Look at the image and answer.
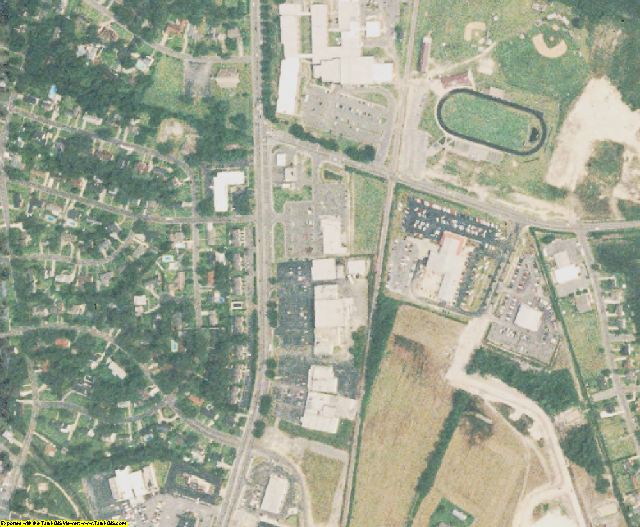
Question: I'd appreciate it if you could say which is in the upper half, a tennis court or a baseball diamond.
baseball diamond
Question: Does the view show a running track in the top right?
Yes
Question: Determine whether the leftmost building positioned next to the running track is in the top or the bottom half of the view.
top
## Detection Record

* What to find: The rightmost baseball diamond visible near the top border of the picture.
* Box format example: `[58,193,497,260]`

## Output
[497,23,590,104]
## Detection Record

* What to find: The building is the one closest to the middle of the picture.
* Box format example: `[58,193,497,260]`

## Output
[311,259,336,279]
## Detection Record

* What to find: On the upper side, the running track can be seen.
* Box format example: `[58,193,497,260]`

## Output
[435,87,548,156]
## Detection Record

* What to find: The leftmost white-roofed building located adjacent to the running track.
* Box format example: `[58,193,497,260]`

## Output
[276,0,392,114]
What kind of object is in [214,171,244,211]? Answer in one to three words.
building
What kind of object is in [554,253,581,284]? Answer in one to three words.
building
